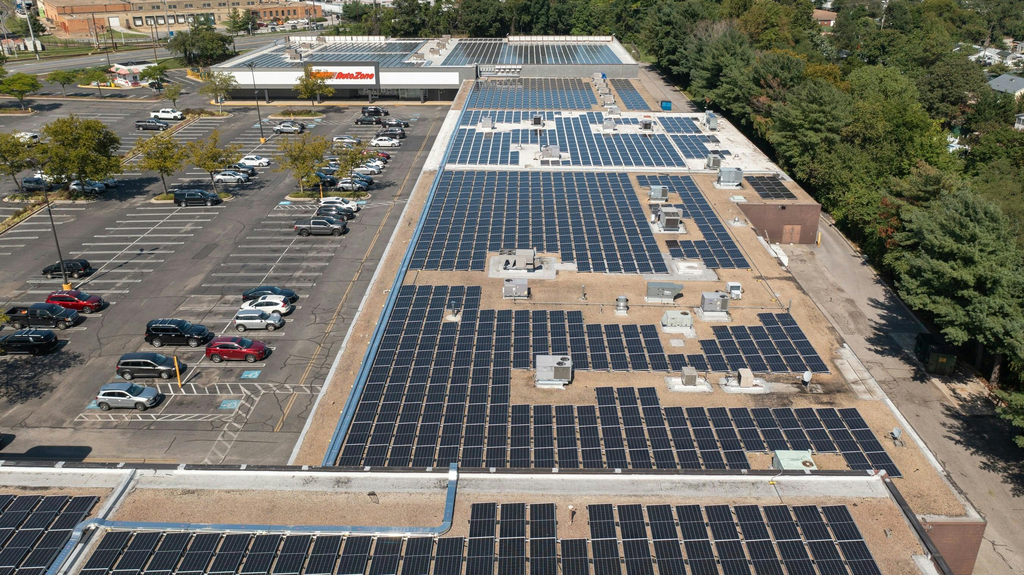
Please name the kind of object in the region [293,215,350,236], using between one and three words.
truck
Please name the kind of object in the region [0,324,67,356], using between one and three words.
car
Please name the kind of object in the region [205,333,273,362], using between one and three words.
car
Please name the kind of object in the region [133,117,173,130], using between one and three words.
vehicle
